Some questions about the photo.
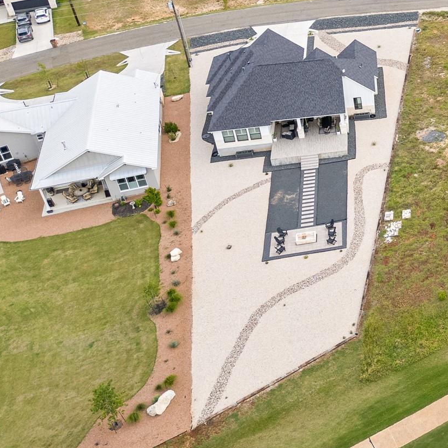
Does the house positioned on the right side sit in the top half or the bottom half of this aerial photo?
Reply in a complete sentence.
It is in the top half that the house positioned on the right side appears.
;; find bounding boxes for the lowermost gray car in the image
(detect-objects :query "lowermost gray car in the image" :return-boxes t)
[12,26,36,45]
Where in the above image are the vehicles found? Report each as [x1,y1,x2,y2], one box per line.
[12,26,36,45]
[31,8,52,25]
[11,8,33,25]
